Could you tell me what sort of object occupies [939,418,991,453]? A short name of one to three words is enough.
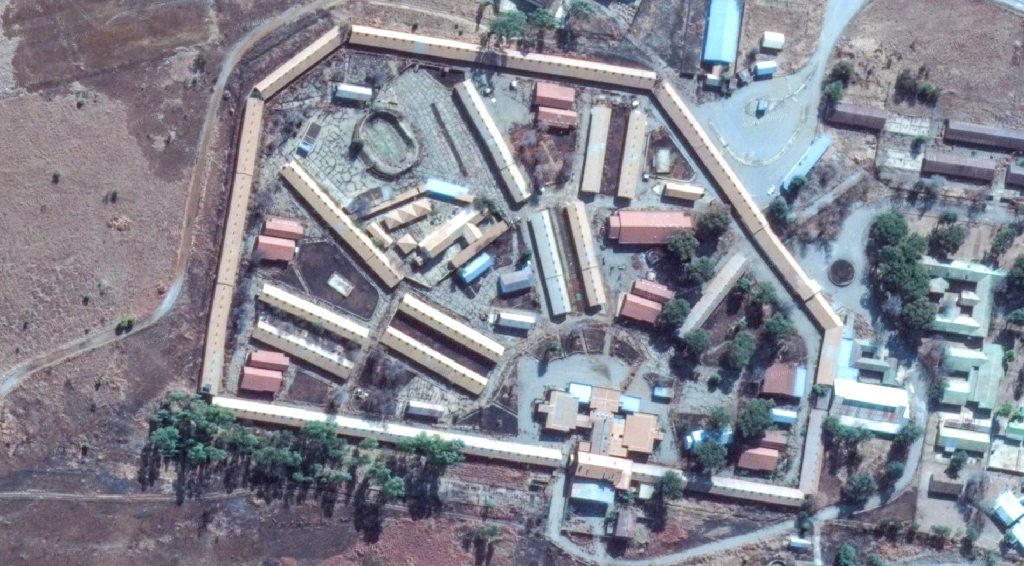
house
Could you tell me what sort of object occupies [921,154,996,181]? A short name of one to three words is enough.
shed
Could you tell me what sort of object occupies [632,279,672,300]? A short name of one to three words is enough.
house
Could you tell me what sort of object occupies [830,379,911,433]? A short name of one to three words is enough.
building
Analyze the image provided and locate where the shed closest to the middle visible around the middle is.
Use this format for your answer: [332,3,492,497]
[500,268,533,294]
